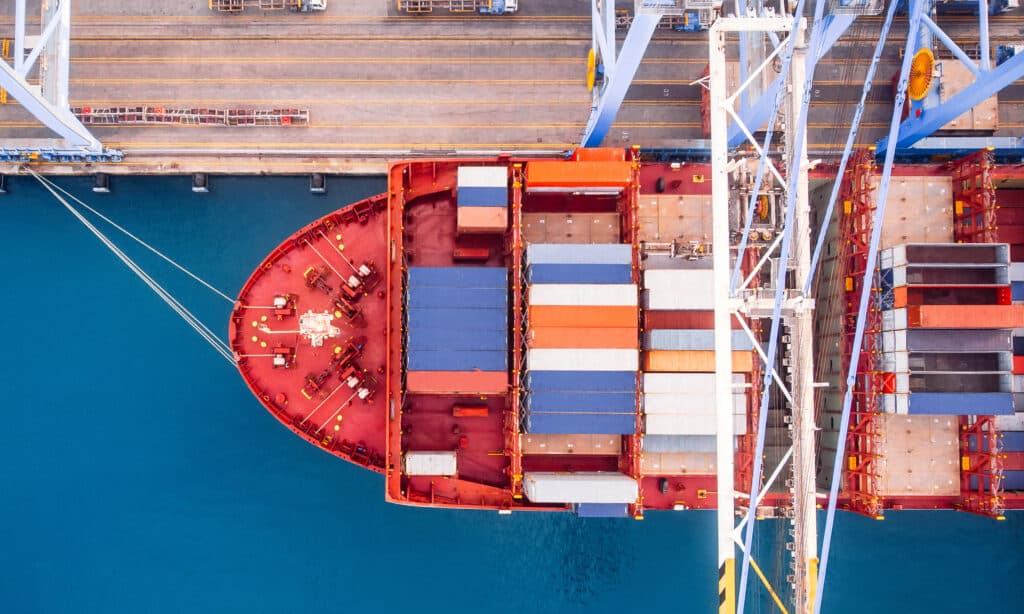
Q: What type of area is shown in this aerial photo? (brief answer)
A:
port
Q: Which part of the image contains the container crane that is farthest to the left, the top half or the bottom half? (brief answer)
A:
top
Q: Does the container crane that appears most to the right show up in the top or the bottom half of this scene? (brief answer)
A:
top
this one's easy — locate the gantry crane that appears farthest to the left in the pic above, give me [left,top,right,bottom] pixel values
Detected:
[0,0,131,160]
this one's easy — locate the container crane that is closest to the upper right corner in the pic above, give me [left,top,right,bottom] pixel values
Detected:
[863,0,1024,160]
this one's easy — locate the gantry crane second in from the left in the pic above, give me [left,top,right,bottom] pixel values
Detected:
[571,0,927,614]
